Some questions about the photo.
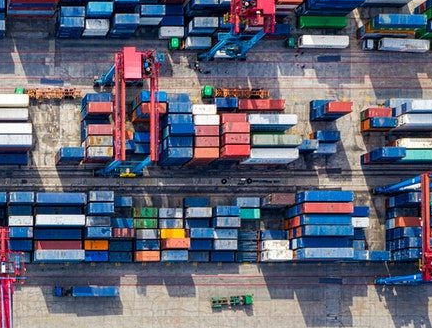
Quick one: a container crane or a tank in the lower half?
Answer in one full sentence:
It is a container crane that can be seen in the lower half.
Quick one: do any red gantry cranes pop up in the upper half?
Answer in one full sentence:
Yes, there is a red gantry crane in the upper half.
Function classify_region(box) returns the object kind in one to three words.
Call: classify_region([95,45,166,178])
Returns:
container crane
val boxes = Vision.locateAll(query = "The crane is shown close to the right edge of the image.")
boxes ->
[376,171,432,286]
